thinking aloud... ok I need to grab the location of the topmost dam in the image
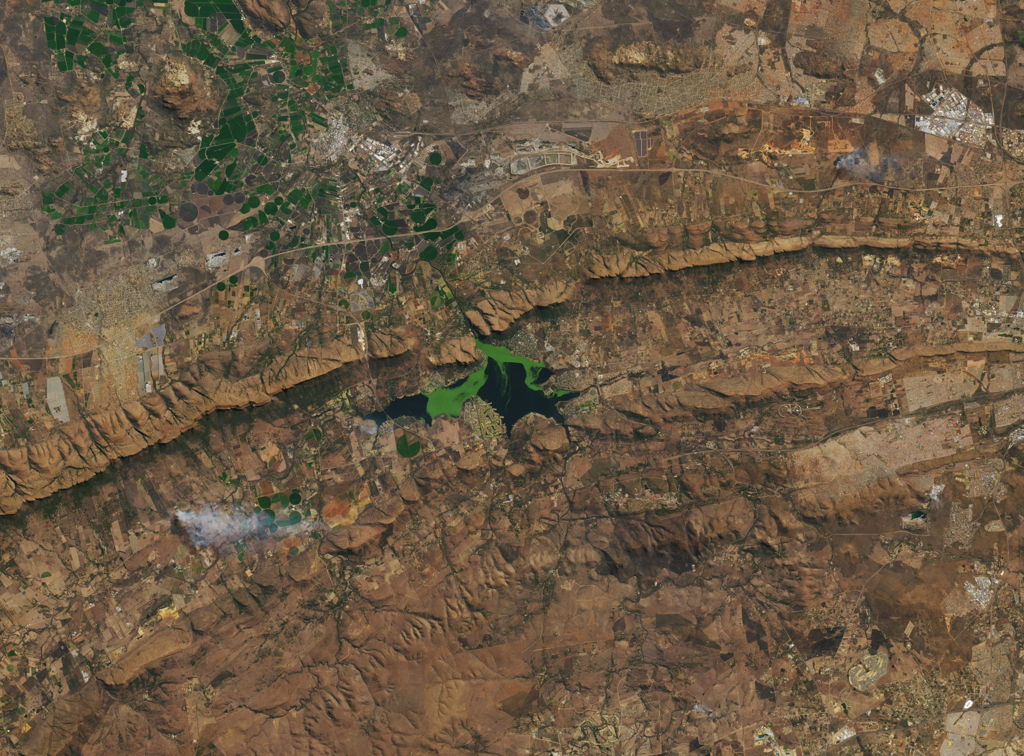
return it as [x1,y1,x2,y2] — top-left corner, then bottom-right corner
[544,3,570,27]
